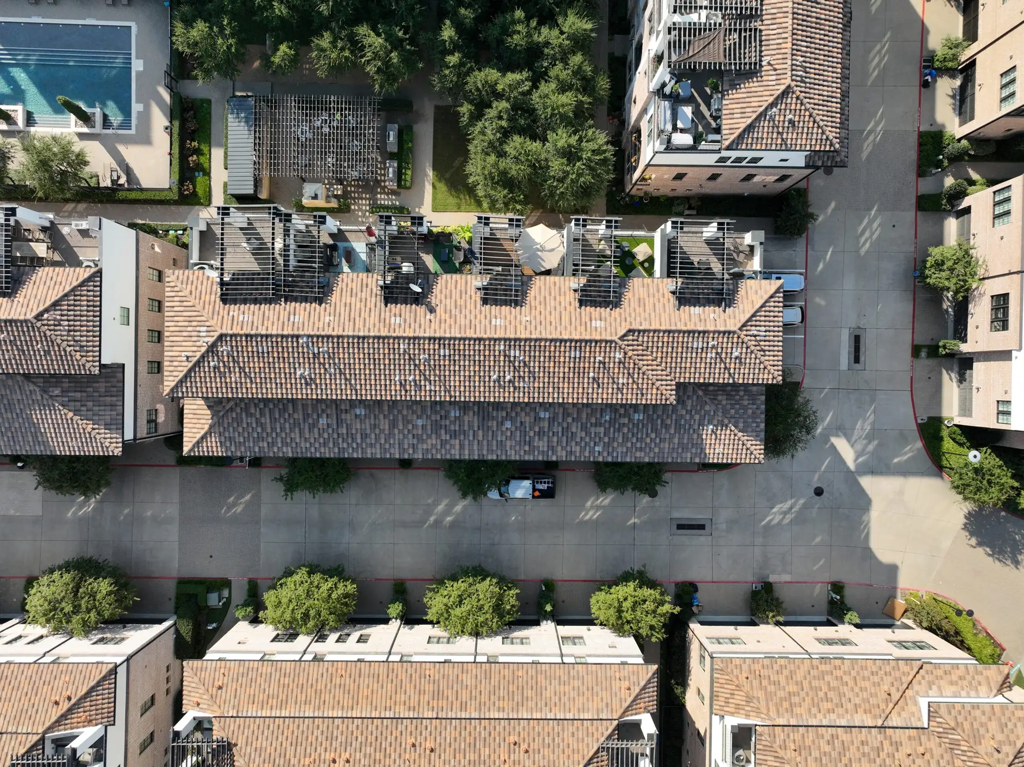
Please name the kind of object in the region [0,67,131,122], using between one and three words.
swimming pool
